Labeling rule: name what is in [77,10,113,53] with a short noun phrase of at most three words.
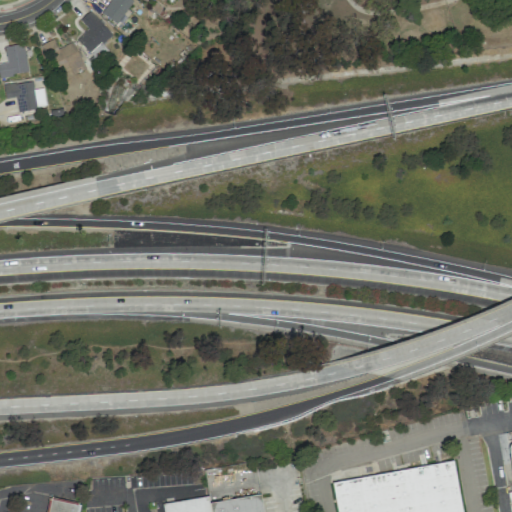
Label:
house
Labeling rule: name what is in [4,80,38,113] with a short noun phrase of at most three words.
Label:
house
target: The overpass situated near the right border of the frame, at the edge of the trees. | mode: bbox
[325,299,512,388]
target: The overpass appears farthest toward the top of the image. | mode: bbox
[0,176,96,221]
